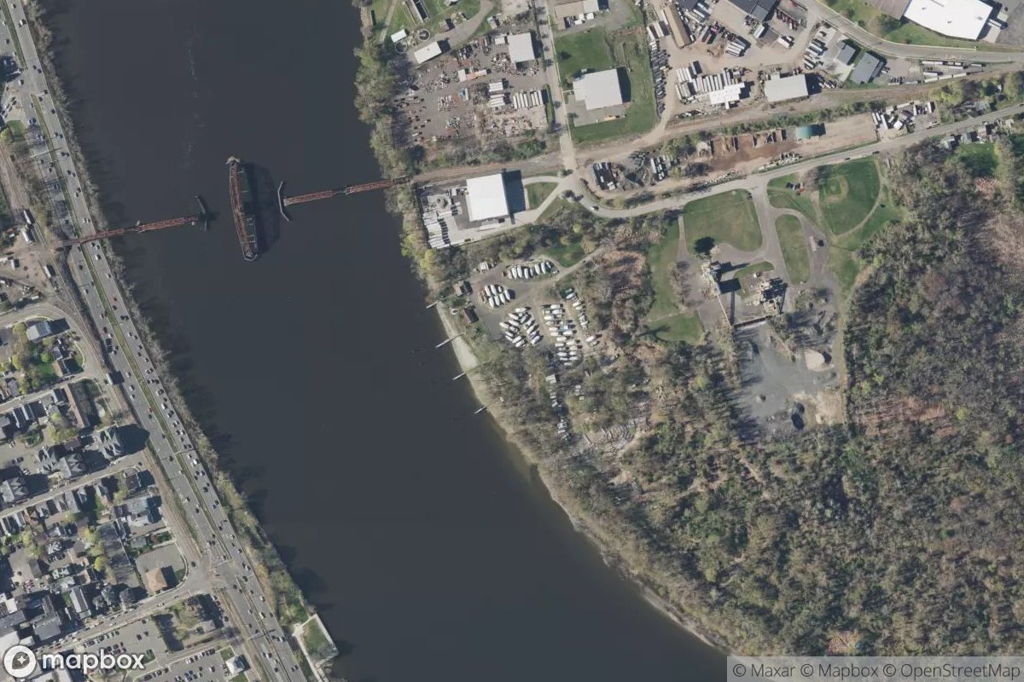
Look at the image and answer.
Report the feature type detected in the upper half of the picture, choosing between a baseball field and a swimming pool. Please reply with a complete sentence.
The one visible in the upper half of the picture is a baseball field.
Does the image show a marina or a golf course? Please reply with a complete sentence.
This looks like a marina.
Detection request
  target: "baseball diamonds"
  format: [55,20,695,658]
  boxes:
[819,157,882,239]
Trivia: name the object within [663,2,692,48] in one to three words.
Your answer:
shed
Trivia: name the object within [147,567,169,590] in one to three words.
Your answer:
house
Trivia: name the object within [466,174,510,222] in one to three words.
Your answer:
building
